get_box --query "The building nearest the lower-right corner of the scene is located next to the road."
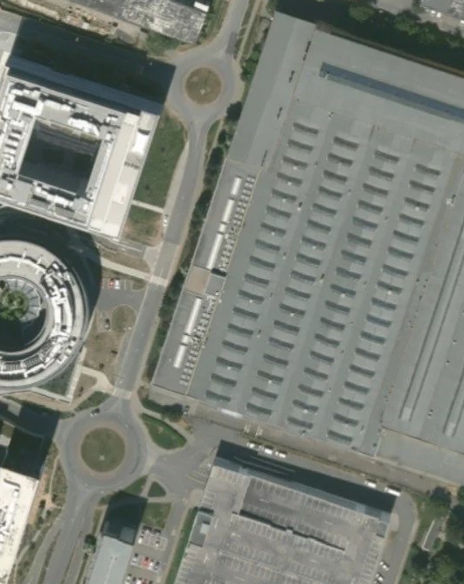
[176,460,391,584]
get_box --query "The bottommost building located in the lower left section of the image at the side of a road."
[84,518,139,584]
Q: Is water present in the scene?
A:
No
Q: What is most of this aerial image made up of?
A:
buildings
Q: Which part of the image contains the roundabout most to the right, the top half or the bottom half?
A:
top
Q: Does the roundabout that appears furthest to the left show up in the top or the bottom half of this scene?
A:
bottom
